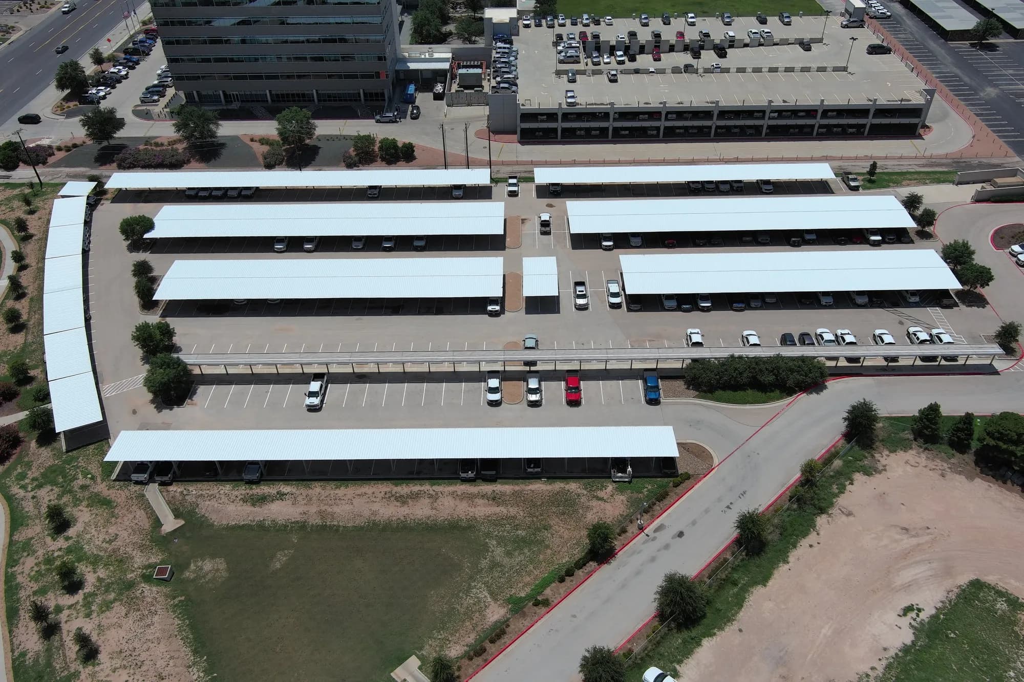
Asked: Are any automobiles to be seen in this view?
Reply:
Yes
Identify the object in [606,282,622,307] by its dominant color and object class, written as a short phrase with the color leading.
white vehicle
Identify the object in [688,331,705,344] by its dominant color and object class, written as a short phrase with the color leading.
white vehicle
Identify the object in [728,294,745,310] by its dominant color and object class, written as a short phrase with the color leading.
black car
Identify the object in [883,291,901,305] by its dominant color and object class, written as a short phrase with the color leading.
black car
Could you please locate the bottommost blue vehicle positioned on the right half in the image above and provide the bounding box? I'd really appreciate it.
[641,372,661,404]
